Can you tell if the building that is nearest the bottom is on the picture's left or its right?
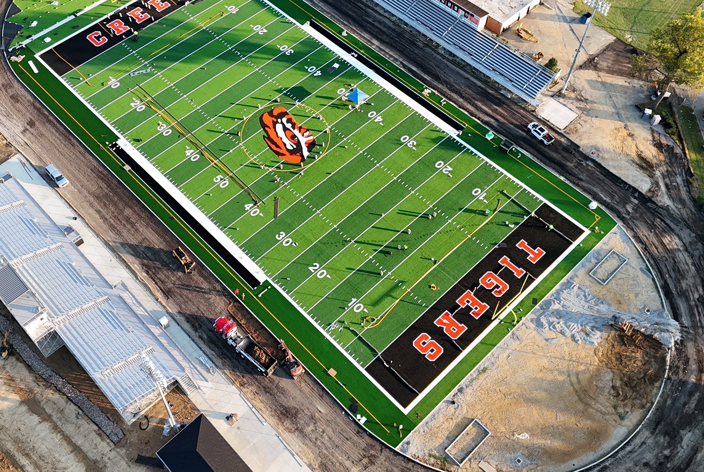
left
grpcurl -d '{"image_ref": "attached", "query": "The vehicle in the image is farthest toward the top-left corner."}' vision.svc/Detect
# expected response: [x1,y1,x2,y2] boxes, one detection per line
[45,165,67,188]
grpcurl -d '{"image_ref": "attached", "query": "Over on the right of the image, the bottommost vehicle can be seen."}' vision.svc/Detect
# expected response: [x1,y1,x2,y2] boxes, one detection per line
[610,312,636,335]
